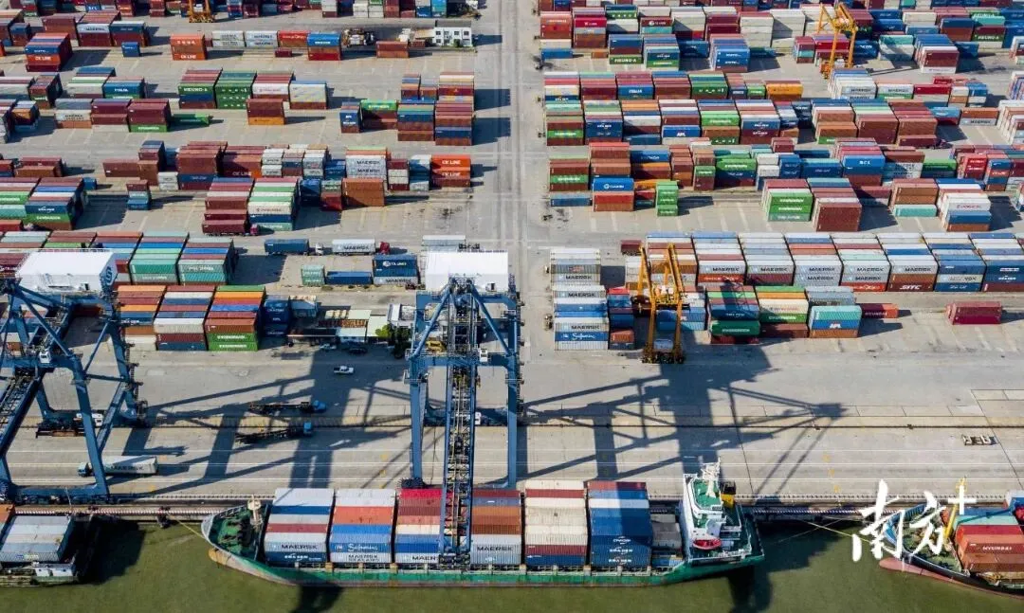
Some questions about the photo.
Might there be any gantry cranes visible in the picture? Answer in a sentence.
Yes, you can see a gantry crane in this photo.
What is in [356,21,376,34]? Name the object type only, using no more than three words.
vehicle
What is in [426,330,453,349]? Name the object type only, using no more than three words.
work vehicle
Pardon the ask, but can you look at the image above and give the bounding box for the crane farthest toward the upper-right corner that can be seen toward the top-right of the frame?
[815,1,862,72]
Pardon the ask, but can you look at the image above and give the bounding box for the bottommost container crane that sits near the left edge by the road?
[0,246,150,501]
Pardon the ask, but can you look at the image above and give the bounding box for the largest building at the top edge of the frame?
[432,20,477,48]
